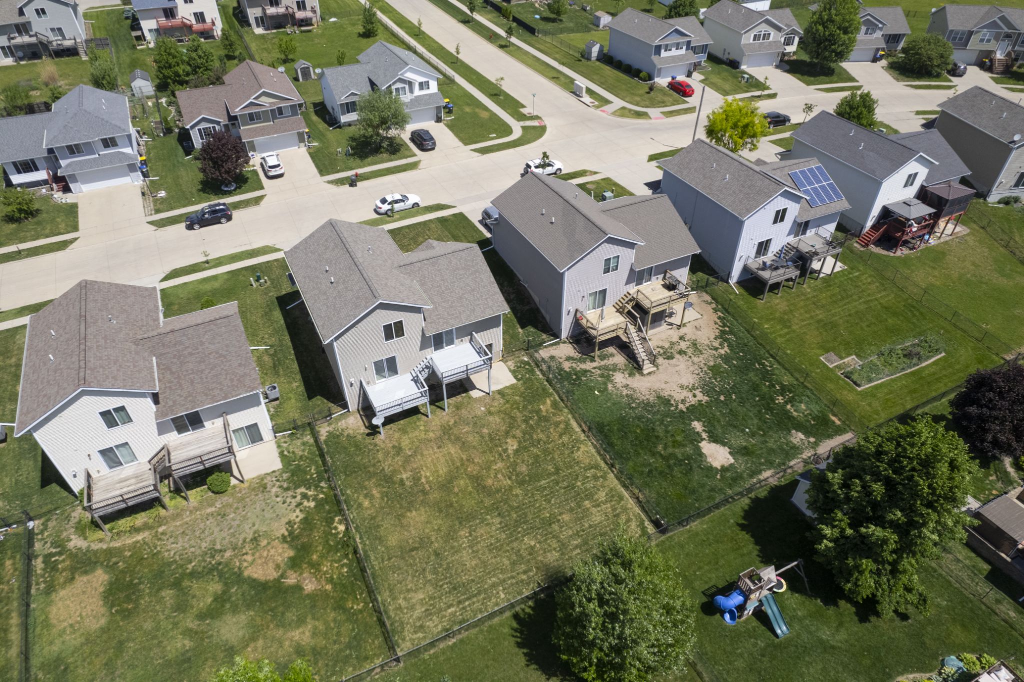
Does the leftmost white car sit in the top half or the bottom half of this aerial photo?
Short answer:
top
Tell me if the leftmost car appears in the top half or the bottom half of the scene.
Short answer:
top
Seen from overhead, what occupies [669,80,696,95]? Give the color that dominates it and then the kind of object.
red car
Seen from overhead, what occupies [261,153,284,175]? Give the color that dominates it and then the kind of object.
white car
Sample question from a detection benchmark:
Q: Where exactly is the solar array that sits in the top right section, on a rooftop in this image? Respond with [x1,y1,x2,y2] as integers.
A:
[789,164,845,207]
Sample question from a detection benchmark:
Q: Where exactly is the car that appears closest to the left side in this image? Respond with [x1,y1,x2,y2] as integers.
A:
[184,201,232,230]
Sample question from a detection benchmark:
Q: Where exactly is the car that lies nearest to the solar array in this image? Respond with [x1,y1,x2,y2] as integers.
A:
[765,109,793,128]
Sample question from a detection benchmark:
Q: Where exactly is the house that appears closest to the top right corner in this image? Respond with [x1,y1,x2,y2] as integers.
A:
[926,6,1024,75]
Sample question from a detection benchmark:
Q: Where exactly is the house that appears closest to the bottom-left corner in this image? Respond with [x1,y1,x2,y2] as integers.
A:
[13,278,292,498]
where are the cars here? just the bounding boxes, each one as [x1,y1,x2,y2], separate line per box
[261,153,284,175]
[184,201,232,230]
[521,158,562,176]
[478,203,501,229]
[669,80,696,95]
[950,58,967,73]
[413,127,435,148]
[765,109,793,128]
[375,193,422,215]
